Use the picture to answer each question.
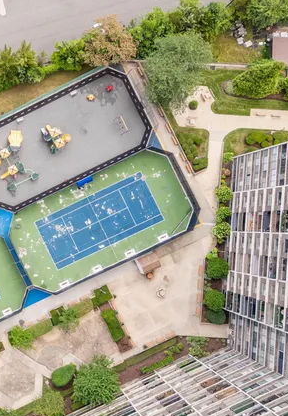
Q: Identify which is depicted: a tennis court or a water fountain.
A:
tennis court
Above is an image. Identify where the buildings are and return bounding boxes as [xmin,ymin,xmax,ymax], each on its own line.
[264,38,288,72]
[61,143,288,416]
[137,252,167,277]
